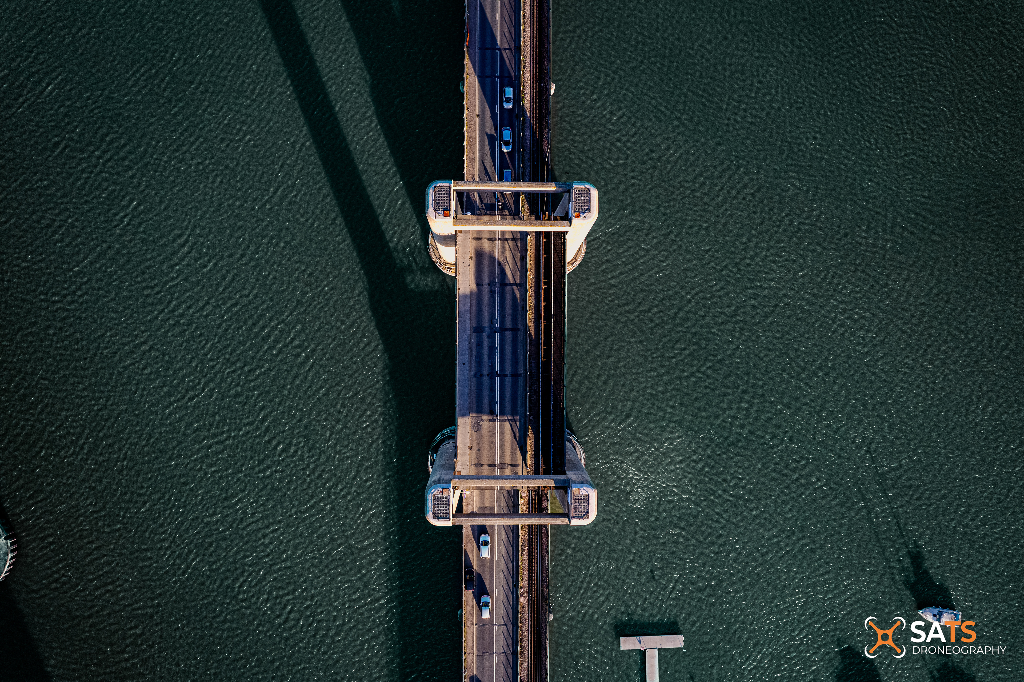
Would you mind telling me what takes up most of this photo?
water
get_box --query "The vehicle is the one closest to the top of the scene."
[502,86,514,110]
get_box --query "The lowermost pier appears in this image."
[620,635,685,682]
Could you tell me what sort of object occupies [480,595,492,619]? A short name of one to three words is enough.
vehicle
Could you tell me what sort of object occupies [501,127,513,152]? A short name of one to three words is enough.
vehicle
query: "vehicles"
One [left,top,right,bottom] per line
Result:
[479,534,491,559]
[464,567,475,592]
[501,127,513,152]
[480,595,492,619]
[502,164,512,181]
[502,86,514,110]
